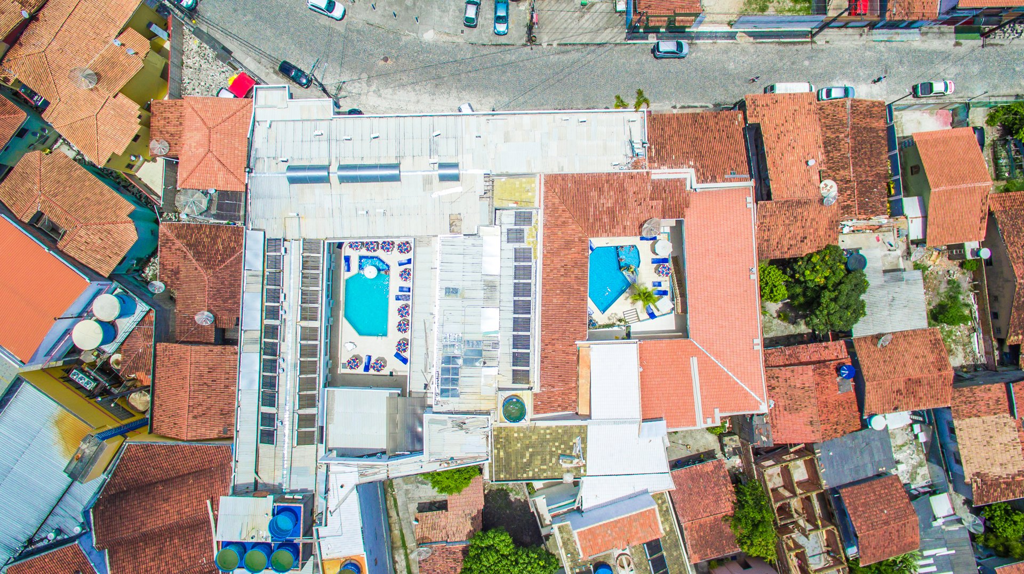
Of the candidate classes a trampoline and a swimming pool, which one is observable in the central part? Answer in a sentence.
The one visible in the central part is a swimming pool.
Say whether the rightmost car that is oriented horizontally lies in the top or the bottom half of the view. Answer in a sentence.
You can find the rightmost car that is oriented horizontally in the top half.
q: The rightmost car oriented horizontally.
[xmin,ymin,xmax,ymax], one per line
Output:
[913,78,953,98]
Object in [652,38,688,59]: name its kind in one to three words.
car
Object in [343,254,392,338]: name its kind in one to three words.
swimming pool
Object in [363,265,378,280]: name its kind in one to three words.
umbrella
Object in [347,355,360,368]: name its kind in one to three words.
umbrella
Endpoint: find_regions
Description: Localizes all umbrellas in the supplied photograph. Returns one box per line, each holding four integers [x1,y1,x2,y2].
[653,239,671,257]
[372,358,385,371]
[657,264,671,278]
[396,242,409,254]
[399,270,410,282]
[380,242,393,252]
[363,265,378,280]
[399,305,409,318]
[347,355,360,368]
[365,242,378,253]
[654,295,674,313]
[398,320,409,333]
[349,243,362,251]
[396,341,409,354]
